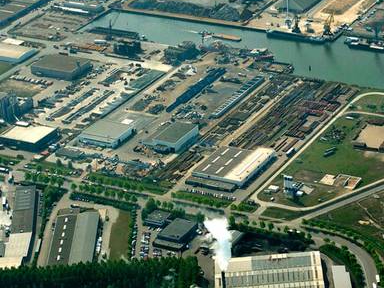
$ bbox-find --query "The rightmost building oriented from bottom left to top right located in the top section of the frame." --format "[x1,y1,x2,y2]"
[212,77,266,126]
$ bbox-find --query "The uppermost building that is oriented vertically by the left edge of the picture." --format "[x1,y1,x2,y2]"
[10,183,38,236]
